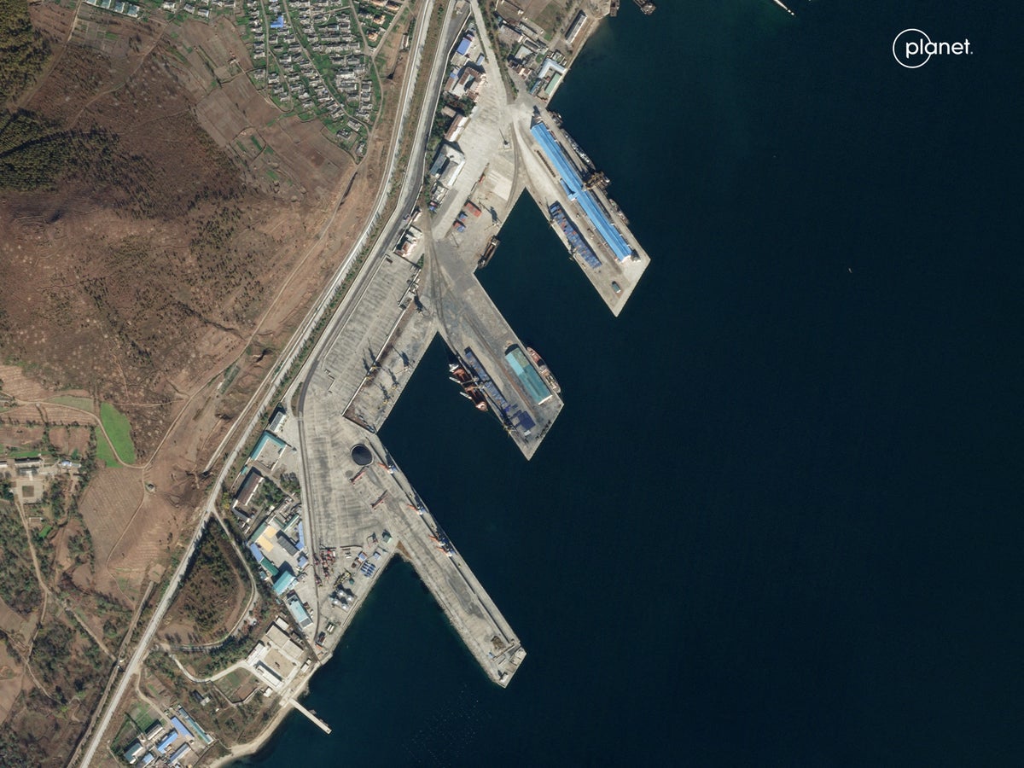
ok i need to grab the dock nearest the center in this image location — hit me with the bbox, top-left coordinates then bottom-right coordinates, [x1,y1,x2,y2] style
[437,273,564,461]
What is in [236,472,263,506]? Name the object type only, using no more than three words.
building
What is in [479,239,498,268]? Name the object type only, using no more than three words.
ship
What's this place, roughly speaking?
port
